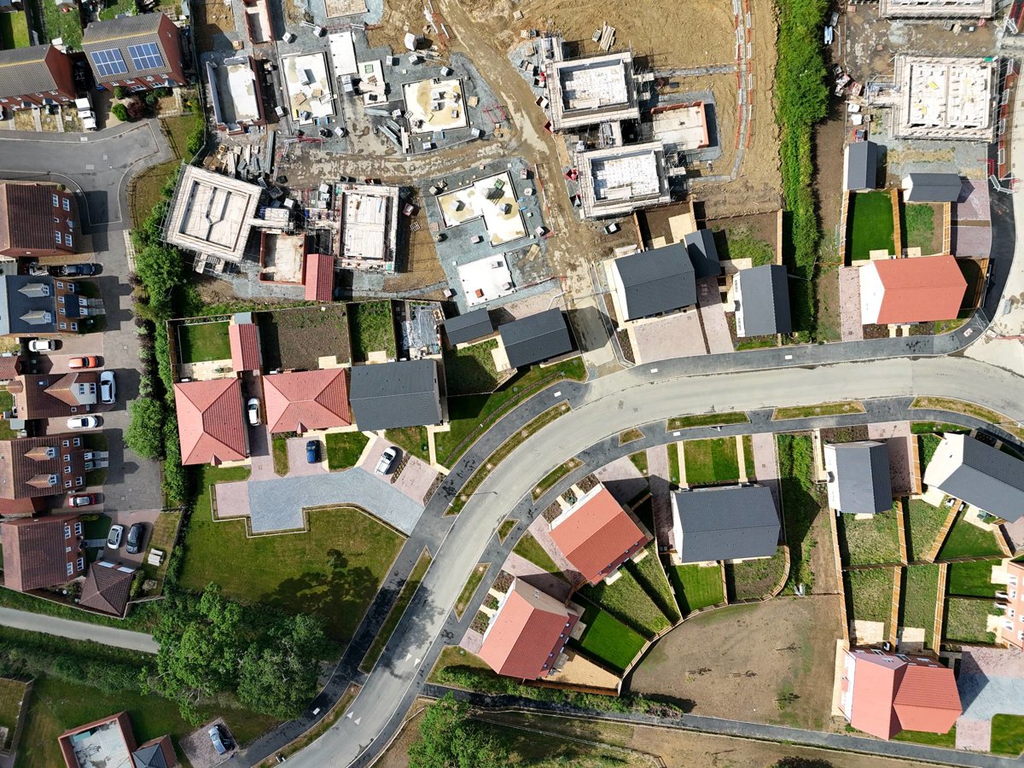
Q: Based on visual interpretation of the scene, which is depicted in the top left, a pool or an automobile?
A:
automobile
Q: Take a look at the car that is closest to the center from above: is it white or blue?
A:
white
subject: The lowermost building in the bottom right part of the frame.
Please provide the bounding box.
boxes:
[839,647,964,740]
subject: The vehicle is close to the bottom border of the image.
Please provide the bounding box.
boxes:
[211,724,232,756]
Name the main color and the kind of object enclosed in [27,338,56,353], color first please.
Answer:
white car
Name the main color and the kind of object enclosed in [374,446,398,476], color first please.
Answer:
white car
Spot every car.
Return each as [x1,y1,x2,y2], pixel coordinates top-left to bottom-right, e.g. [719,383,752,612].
[22,360,45,374]
[64,261,96,277]
[69,493,96,508]
[90,79,106,102]
[374,446,398,476]
[106,523,124,549]
[68,355,98,370]
[66,416,99,429]
[125,522,145,553]
[27,338,56,353]
[306,439,320,464]
[245,397,261,426]
[211,724,232,756]
[98,370,116,404]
